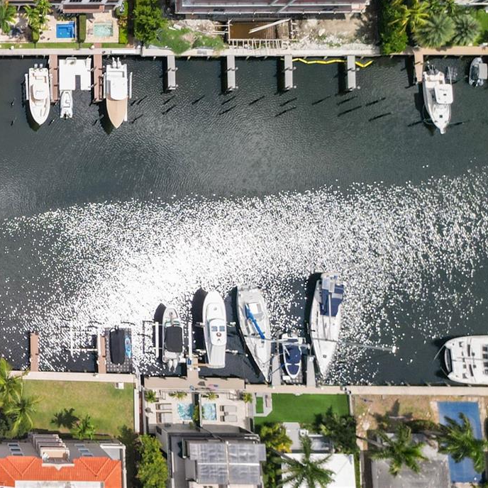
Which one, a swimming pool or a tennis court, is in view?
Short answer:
swimming pool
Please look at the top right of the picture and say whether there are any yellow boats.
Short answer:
No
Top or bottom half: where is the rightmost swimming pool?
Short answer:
bottom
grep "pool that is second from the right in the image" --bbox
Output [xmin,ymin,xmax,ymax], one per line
[203,401,218,421]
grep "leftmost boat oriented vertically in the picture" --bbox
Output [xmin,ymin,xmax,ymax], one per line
[29,63,50,125]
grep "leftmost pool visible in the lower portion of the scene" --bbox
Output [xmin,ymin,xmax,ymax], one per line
[176,401,195,421]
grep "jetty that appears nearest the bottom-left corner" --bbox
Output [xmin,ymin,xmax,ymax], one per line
[28,333,40,373]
